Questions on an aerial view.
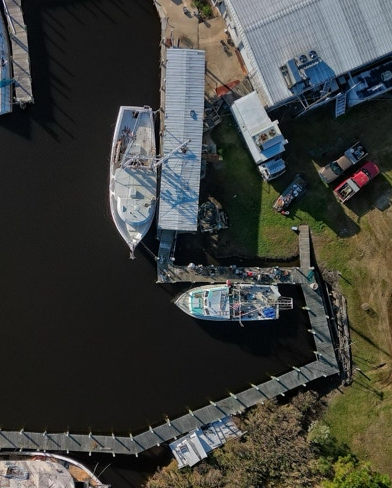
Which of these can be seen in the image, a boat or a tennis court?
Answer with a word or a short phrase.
boat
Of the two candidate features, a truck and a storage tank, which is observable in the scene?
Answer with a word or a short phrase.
truck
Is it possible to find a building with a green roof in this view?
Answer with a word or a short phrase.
No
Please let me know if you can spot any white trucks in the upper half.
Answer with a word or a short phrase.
Yes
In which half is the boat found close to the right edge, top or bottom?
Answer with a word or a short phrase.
top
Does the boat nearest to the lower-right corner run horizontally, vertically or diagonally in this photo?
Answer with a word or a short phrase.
horizontally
